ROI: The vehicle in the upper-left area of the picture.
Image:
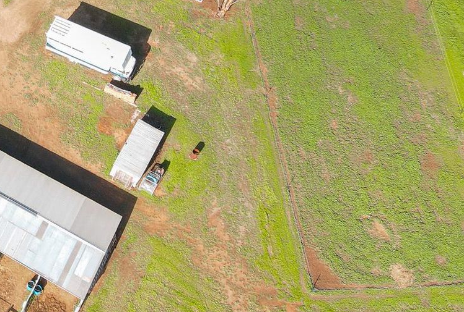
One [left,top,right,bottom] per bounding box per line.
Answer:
[42,16,136,87]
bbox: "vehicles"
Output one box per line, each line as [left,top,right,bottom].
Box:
[141,147,171,197]
[42,16,136,87]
